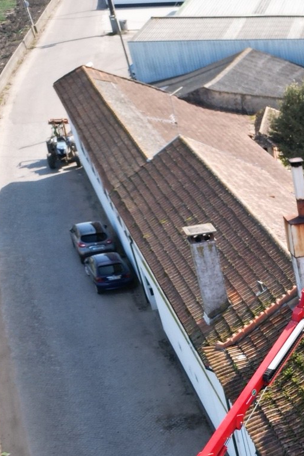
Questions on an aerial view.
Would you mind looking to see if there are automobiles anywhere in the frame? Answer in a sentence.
Yes, an automobile can be made out from above.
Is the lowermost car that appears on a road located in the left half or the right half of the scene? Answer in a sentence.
The lowermost car that appears on a road is on the left side of the image.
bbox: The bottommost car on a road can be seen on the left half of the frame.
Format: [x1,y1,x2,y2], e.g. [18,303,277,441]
[80,250,128,288]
